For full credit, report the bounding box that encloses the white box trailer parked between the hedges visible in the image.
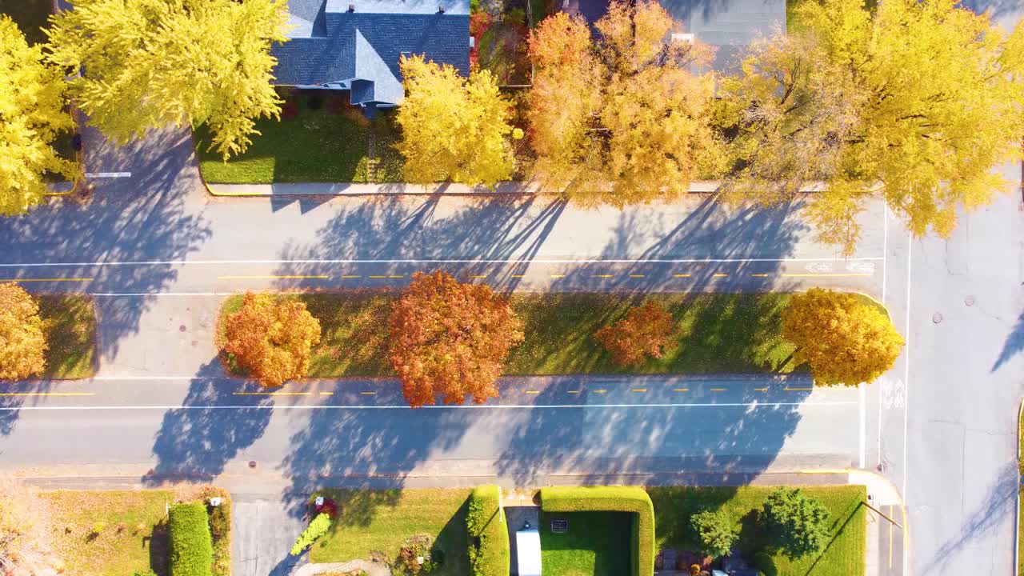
[516,519,542,576]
